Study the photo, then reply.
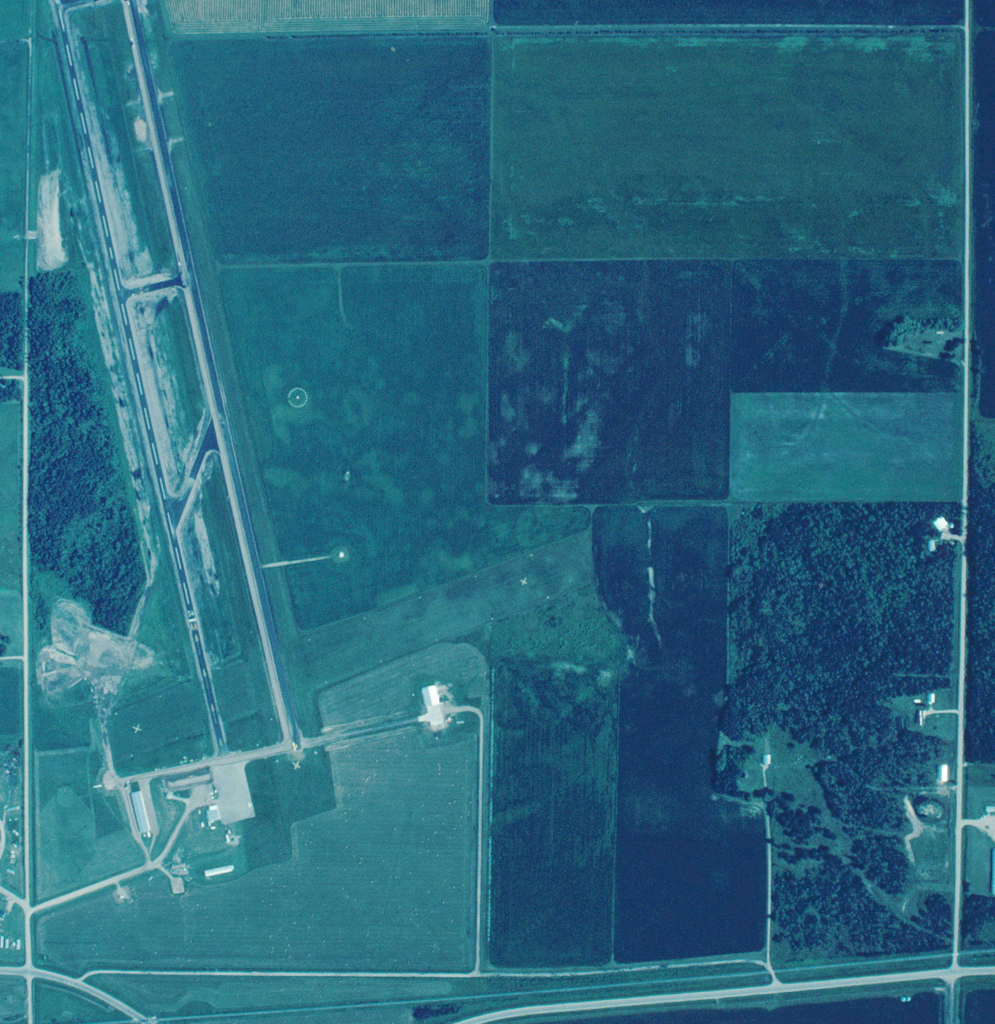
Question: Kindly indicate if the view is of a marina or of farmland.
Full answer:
What you see here is farmland.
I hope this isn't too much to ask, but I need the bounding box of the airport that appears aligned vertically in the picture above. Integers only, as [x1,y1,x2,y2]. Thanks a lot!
[50,0,443,894]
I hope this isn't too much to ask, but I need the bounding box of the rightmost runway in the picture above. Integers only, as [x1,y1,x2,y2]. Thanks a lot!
[294,527,598,732]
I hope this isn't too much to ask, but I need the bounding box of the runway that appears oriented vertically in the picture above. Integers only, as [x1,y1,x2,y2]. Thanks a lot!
[53,0,225,755]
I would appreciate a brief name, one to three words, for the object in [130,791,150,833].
hangar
